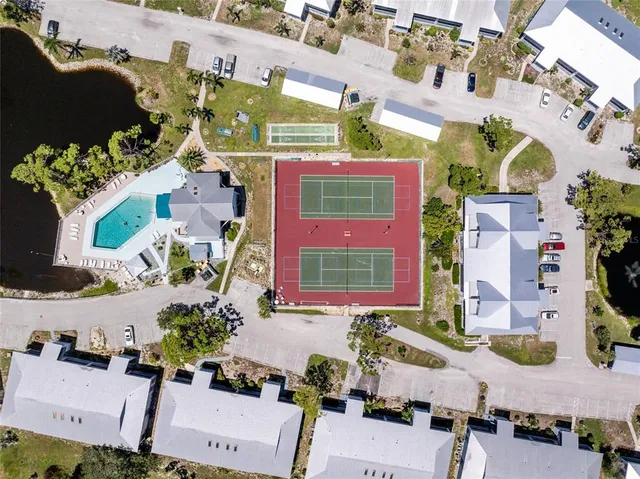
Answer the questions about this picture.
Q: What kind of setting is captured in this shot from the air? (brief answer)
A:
residential area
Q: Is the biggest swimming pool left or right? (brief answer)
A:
left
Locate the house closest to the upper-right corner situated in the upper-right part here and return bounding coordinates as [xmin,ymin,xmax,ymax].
[518,0,640,114]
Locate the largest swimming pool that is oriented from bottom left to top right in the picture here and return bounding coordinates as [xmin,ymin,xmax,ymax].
[92,194,156,250]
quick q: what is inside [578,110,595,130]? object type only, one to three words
car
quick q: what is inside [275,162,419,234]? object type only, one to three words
tennis court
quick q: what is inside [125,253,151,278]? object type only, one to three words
building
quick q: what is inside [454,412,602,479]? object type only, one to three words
house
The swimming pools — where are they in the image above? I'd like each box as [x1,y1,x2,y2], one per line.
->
[92,194,156,250]
[157,192,171,218]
